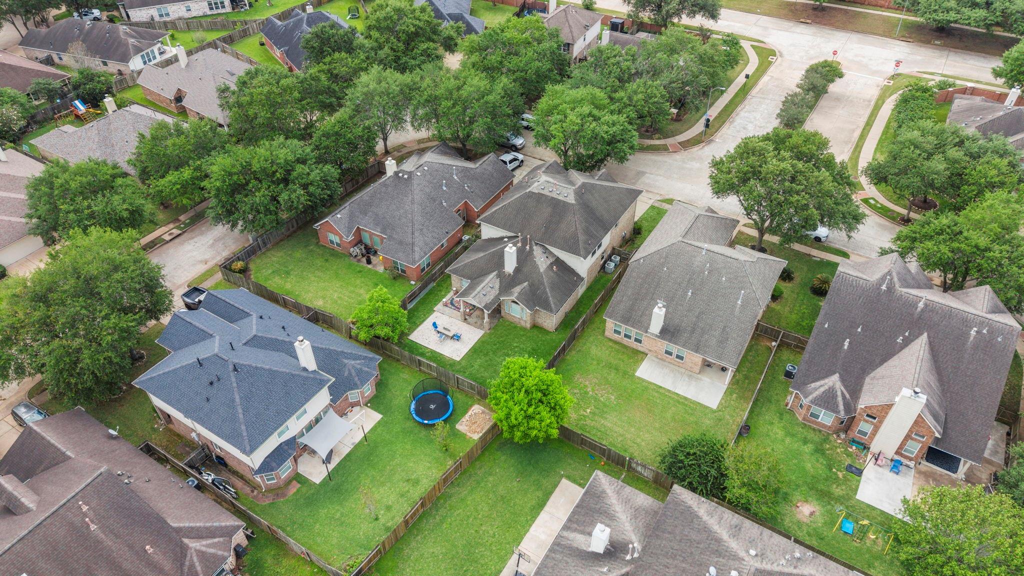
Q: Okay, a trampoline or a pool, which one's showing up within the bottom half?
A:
trampoline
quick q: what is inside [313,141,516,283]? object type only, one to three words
house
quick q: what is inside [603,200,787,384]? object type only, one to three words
house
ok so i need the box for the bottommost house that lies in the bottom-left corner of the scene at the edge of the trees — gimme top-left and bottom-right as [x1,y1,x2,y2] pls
[0,406,247,576]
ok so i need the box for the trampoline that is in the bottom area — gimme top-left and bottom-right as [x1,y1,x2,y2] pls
[407,381,457,431]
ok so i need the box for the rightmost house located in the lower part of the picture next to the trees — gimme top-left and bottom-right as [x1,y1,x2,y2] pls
[783,252,1022,477]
